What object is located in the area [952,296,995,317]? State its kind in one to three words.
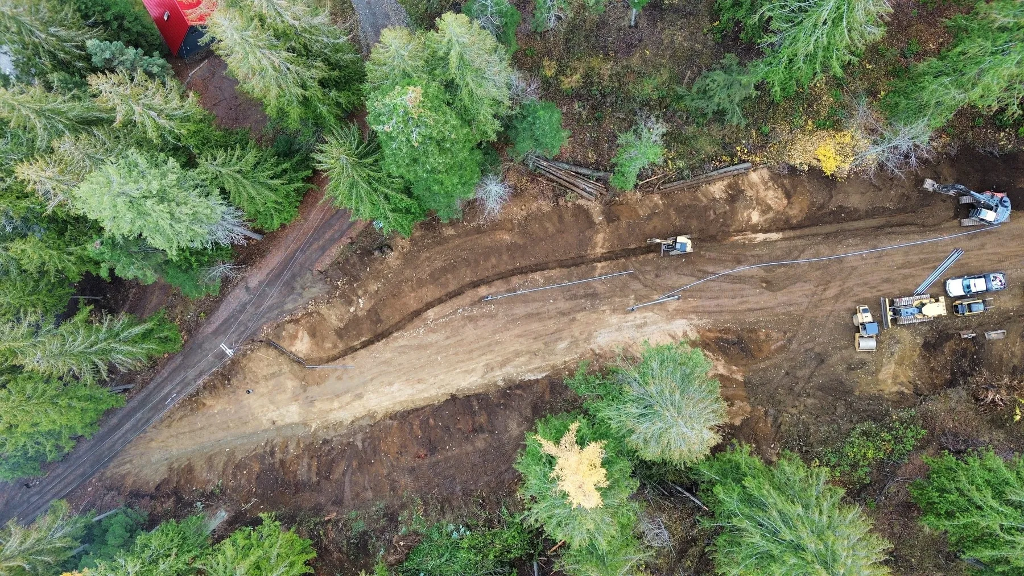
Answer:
work vehicle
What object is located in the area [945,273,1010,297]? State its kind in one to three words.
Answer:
truck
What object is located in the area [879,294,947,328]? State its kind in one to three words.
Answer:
work vehicle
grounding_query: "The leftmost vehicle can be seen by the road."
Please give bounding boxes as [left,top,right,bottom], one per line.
[644,234,694,258]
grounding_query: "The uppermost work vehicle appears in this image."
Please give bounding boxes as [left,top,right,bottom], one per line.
[919,175,1015,227]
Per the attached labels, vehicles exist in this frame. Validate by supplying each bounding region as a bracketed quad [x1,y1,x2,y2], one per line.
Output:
[879,294,947,328]
[919,175,1015,227]
[644,234,694,258]
[945,273,1010,297]
[952,296,995,317]
[844,303,879,353]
